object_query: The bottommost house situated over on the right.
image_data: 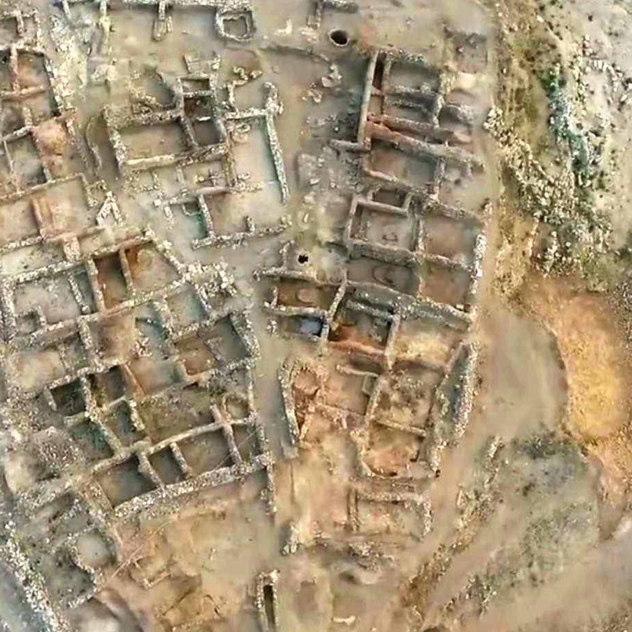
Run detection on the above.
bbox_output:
[348,490,434,532]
